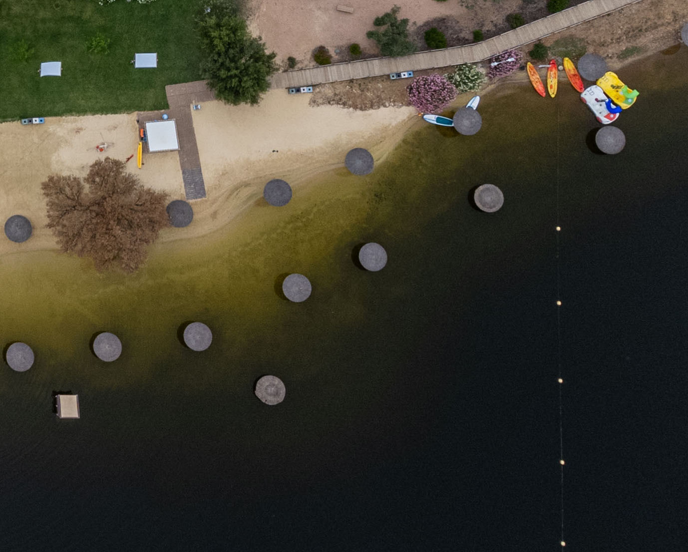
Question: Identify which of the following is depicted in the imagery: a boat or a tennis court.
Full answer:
Visible in the photo is a boat.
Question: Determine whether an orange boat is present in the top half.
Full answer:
Yes, there is an orange boat in the top half.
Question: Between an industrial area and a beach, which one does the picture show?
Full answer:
The area seen from above is a beach.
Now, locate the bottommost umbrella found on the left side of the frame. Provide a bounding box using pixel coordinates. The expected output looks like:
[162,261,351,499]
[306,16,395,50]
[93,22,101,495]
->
[256,373,285,403]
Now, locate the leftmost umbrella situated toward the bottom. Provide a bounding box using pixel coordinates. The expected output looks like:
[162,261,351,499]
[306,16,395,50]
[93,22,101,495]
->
[8,340,37,369]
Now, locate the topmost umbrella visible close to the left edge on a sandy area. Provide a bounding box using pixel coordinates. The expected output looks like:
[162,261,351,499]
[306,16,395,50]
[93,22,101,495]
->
[5,213,34,242]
